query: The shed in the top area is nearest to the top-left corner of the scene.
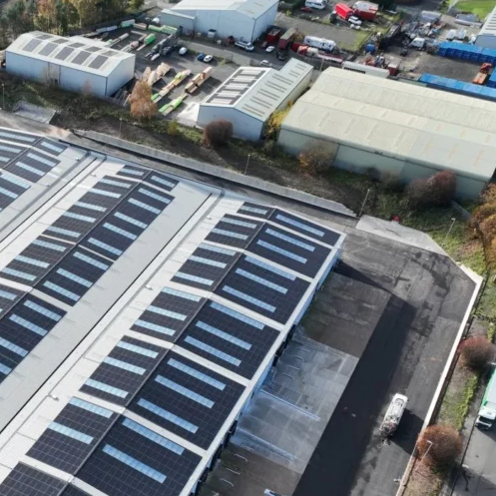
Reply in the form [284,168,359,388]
[4,31,134,99]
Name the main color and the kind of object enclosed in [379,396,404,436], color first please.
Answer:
white truck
